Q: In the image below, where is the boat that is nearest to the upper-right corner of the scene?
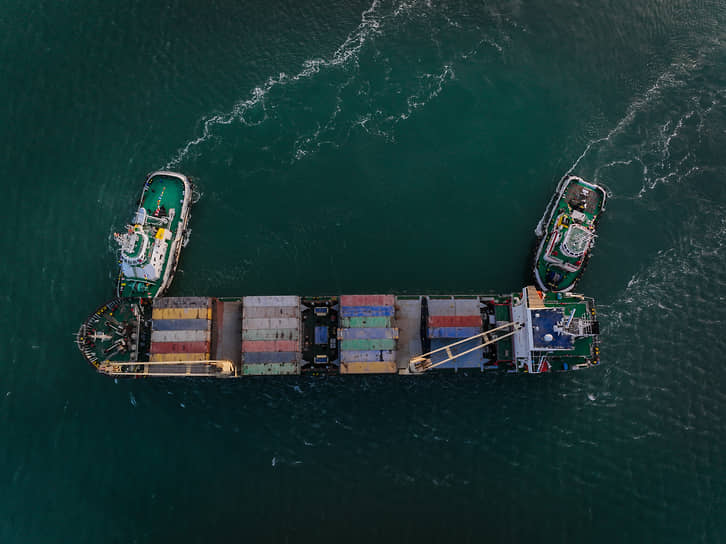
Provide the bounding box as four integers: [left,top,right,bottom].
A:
[532,174,606,294]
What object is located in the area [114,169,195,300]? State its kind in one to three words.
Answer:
boat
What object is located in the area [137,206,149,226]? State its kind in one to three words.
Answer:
boat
